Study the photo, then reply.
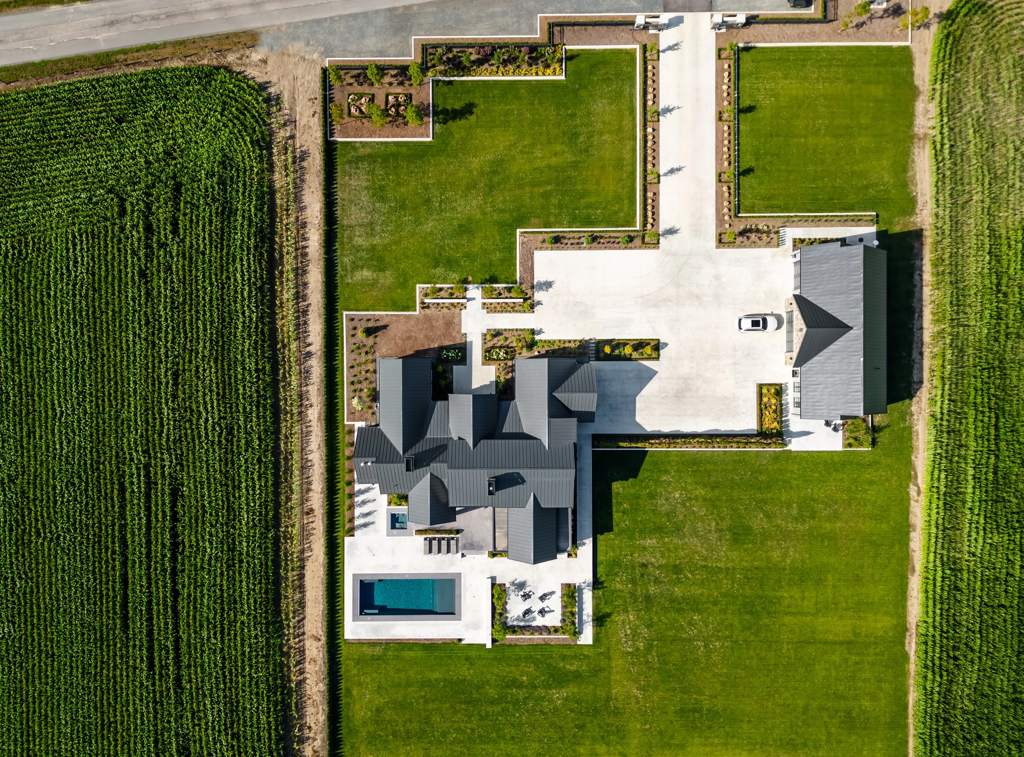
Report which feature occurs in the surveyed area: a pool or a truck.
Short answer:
pool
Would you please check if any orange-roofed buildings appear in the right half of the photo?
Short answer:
No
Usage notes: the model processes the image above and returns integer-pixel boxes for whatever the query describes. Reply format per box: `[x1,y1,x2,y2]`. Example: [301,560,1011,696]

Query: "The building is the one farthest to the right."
[783,242,888,420]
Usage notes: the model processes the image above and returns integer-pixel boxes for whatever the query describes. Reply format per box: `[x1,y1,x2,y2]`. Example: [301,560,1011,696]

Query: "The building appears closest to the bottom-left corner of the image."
[353,358,597,564]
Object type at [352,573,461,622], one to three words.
swimming pool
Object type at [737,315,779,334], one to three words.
car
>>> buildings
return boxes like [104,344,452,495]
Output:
[353,358,597,564]
[783,242,888,420]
